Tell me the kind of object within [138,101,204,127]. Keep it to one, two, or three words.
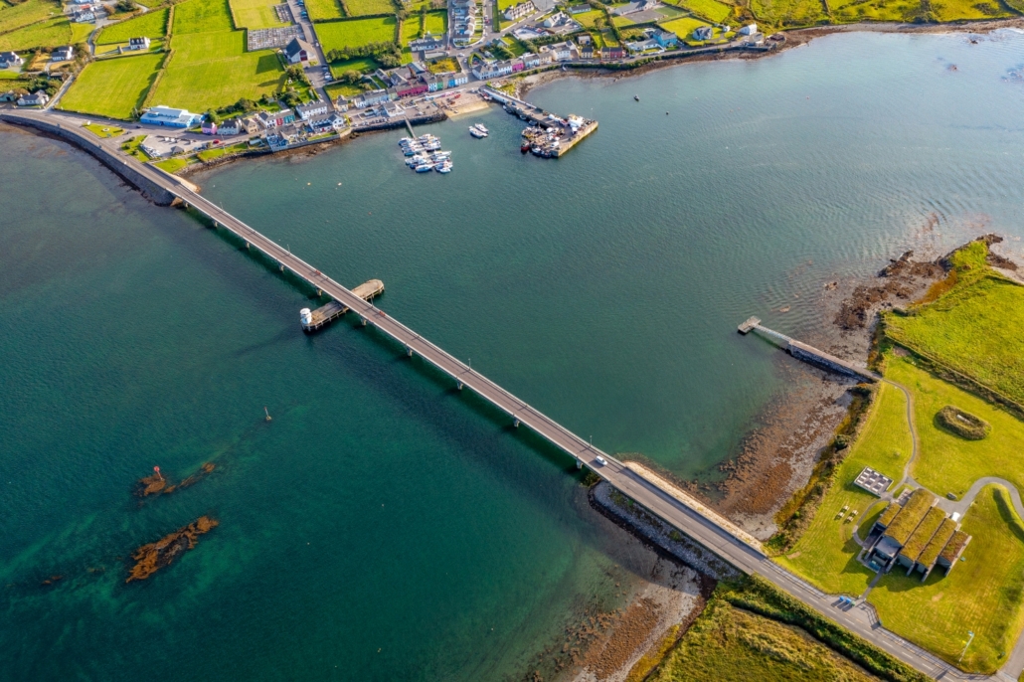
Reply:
building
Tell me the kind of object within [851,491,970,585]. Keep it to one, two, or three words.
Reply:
building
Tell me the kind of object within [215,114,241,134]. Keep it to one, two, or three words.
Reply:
house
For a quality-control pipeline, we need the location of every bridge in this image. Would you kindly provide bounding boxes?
[165,184,625,483]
